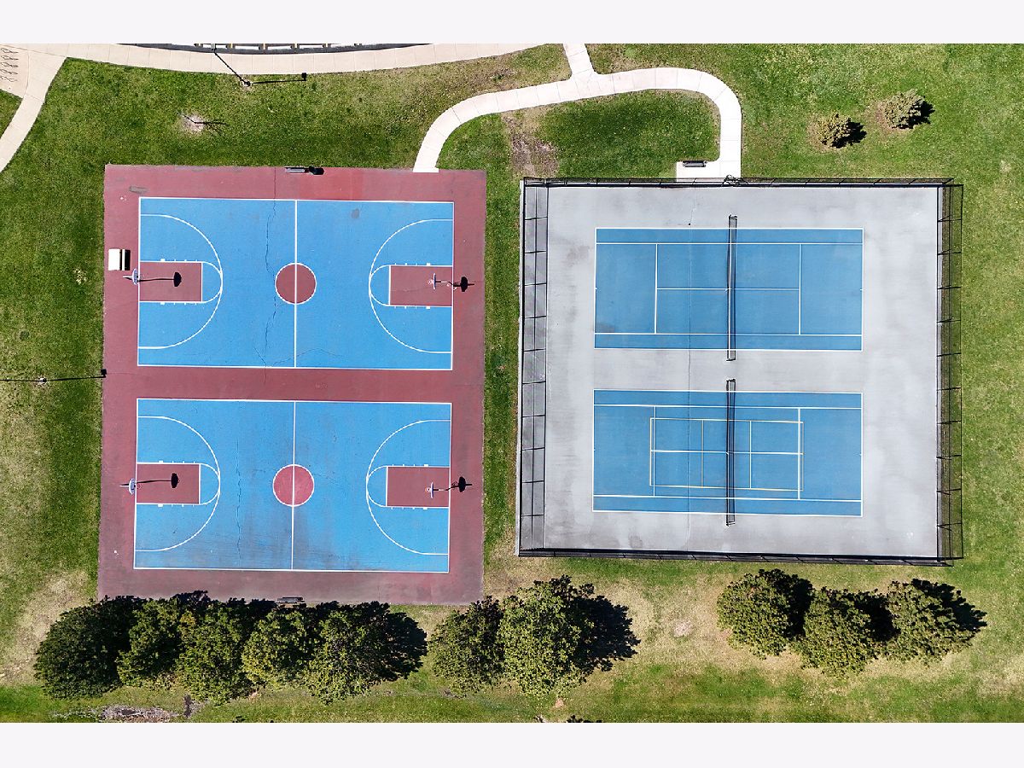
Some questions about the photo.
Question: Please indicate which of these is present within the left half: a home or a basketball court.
basketball court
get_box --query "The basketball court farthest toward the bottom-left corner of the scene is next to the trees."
[133,399,452,573]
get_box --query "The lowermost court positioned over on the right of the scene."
[592,389,863,517]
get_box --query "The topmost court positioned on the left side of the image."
[137,198,454,371]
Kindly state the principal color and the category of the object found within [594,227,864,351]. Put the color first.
blue tennis court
